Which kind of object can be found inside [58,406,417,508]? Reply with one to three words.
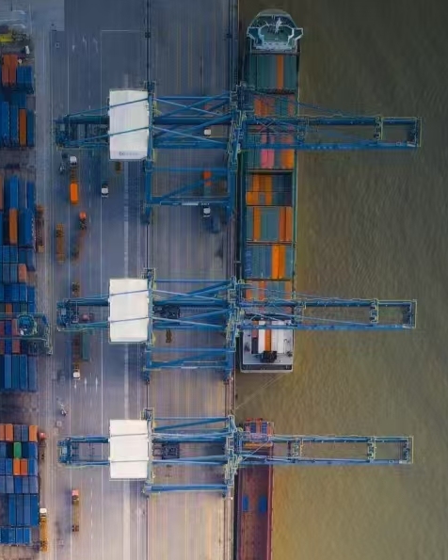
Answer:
container crane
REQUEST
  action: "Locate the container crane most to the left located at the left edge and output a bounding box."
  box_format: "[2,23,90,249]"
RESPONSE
[0,311,52,364]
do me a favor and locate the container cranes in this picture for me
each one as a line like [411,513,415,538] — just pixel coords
[58,406,417,508]
[55,67,422,226]
[56,267,420,387]
[0,311,52,364]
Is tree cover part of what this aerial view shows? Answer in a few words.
No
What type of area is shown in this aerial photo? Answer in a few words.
port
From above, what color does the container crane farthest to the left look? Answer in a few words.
blue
